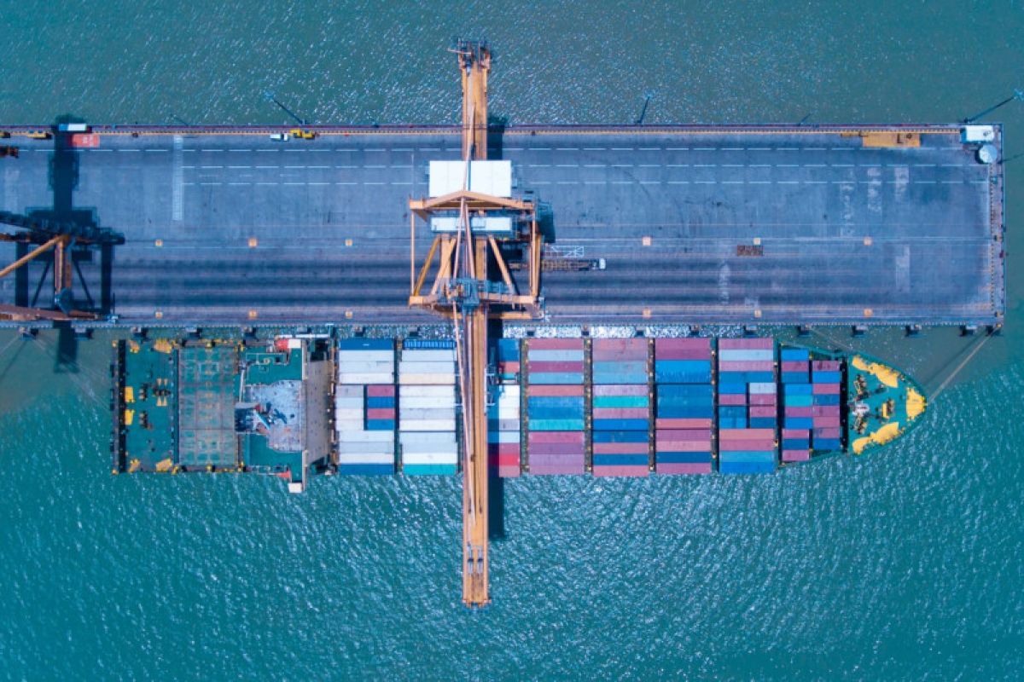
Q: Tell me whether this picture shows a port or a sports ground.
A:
port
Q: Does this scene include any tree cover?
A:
No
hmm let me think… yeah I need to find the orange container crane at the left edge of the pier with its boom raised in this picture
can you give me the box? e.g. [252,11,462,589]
[0,201,124,321]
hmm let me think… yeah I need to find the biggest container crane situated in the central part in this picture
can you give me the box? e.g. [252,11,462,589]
[410,31,556,610]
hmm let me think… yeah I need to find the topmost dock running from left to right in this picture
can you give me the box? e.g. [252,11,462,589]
[0,124,1005,333]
